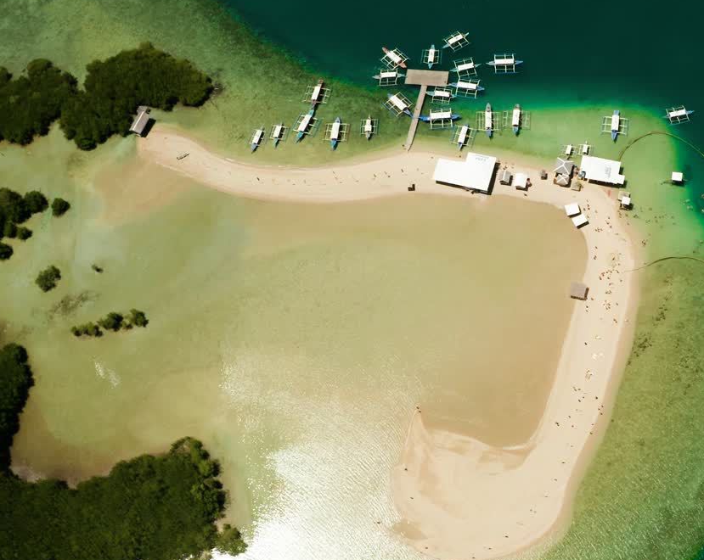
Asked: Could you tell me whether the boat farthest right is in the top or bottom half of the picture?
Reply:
top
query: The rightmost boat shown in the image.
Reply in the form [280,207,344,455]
[663,104,693,127]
